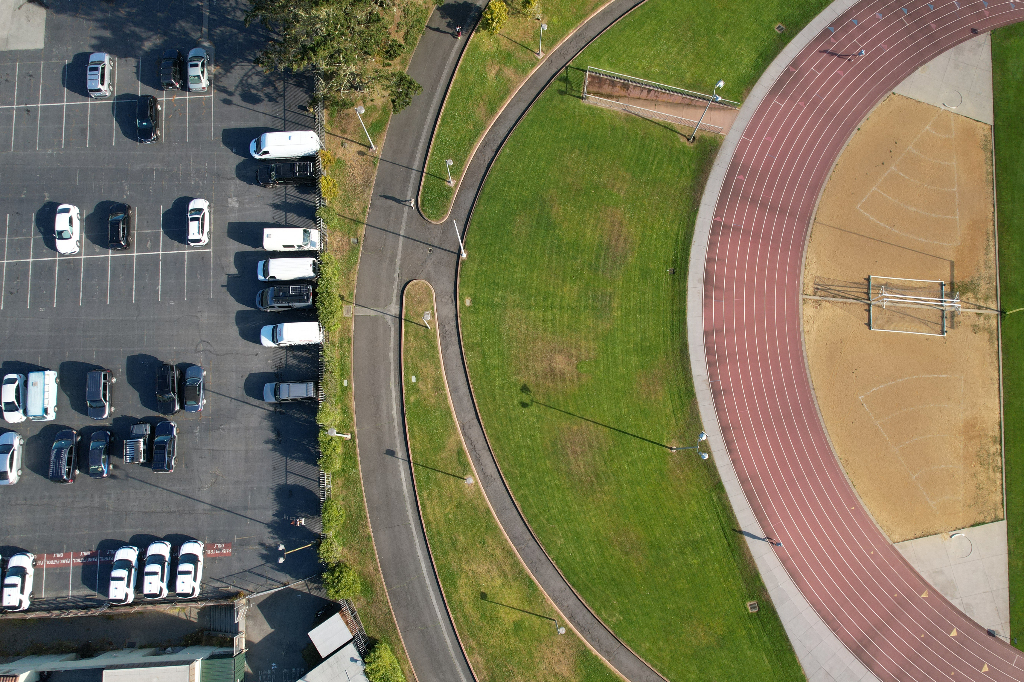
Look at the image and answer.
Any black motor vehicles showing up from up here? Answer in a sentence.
Yes, there is a black motor vehicle in the image.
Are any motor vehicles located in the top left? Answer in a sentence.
Yes, a motor vehicle is visible in the top left.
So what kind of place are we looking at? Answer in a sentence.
This looks like a sports ground.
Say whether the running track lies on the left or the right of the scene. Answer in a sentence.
You can find the running track on the right side of the picture.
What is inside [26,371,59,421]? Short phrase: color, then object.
white vehicle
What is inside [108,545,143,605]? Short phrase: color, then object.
white car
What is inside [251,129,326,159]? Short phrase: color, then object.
white van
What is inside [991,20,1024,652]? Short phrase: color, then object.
green sports field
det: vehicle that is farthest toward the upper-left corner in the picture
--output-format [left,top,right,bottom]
[86,52,112,100]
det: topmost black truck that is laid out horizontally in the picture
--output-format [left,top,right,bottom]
[257,161,320,186]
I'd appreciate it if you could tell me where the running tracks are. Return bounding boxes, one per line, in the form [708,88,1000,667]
[703,0,1024,682]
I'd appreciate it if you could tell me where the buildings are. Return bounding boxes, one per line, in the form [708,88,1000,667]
[309,608,358,658]
[300,638,379,682]
[0,641,240,682]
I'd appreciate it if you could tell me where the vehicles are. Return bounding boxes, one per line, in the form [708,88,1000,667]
[187,48,210,94]
[26,371,59,421]
[160,49,184,92]
[123,424,154,467]
[258,258,319,282]
[86,370,114,420]
[134,94,161,145]
[259,228,322,253]
[0,432,26,486]
[262,322,327,346]
[108,545,143,605]
[183,365,208,413]
[154,364,182,415]
[54,203,81,255]
[1,551,40,611]
[251,129,326,159]
[151,421,180,474]
[106,203,133,252]
[0,373,28,424]
[264,379,317,403]
[86,52,112,100]
[257,285,316,310]
[175,539,208,599]
[47,429,81,484]
[186,198,211,248]
[88,430,115,479]
[142,540,176,600]
[257,161,320,186]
